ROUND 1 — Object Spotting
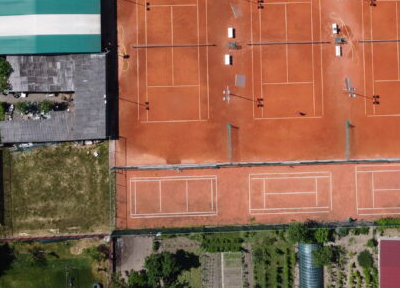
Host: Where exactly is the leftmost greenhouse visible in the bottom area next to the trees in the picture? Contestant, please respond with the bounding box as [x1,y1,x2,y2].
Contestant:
[299,244,323,288]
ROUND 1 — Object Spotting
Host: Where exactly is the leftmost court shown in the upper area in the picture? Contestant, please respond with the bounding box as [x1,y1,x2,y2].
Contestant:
[115,0,231,167]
